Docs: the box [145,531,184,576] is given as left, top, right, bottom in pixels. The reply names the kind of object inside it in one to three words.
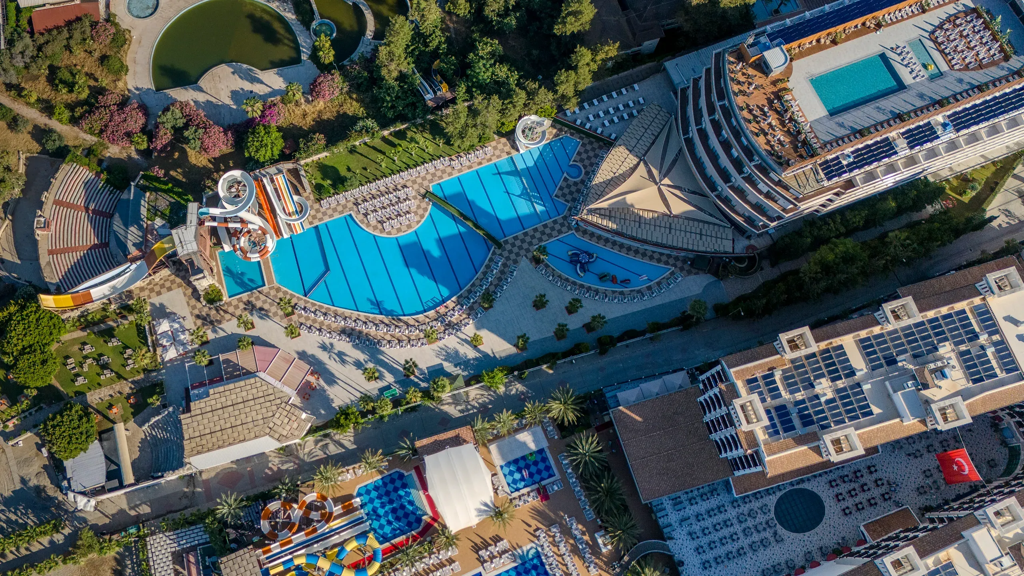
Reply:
building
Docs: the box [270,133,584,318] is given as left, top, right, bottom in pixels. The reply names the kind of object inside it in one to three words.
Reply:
swimming pool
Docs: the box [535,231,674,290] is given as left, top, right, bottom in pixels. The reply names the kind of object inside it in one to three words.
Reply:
swimming pool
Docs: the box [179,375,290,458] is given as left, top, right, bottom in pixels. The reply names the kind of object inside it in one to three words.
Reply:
building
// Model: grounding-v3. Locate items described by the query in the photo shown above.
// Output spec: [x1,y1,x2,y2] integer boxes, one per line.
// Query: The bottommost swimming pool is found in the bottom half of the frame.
[473,551,555,576]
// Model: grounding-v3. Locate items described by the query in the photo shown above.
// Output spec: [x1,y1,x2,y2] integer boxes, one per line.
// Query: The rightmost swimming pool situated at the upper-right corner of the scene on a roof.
[907,38,943,80]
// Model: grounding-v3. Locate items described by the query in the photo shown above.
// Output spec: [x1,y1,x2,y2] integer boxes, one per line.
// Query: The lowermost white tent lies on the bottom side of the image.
[424,442,496,532]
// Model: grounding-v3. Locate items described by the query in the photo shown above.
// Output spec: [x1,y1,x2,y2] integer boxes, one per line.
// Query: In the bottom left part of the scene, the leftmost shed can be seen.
[64,440,112,492]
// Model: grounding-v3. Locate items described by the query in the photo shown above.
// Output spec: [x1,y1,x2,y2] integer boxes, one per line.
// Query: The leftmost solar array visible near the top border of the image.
[771,0,904,47]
